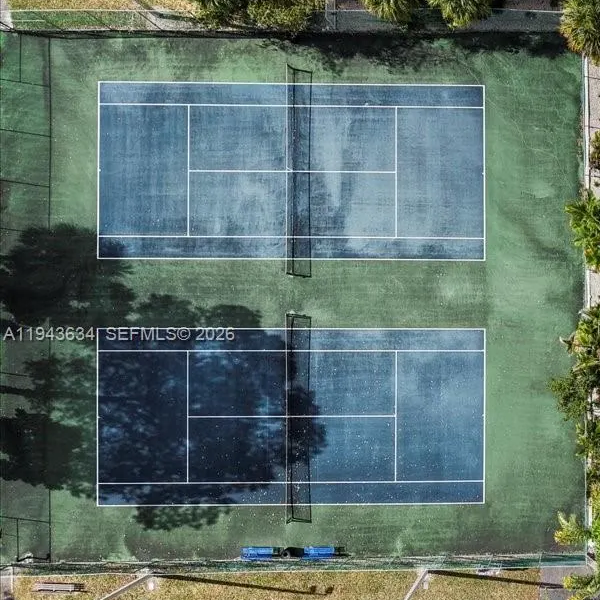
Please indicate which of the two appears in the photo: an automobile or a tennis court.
tennis court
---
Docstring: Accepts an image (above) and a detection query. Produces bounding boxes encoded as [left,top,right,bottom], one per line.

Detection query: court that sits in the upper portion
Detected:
[97,62,485,275]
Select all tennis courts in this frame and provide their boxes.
[97,62,485,275]
[96,312,485,526]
